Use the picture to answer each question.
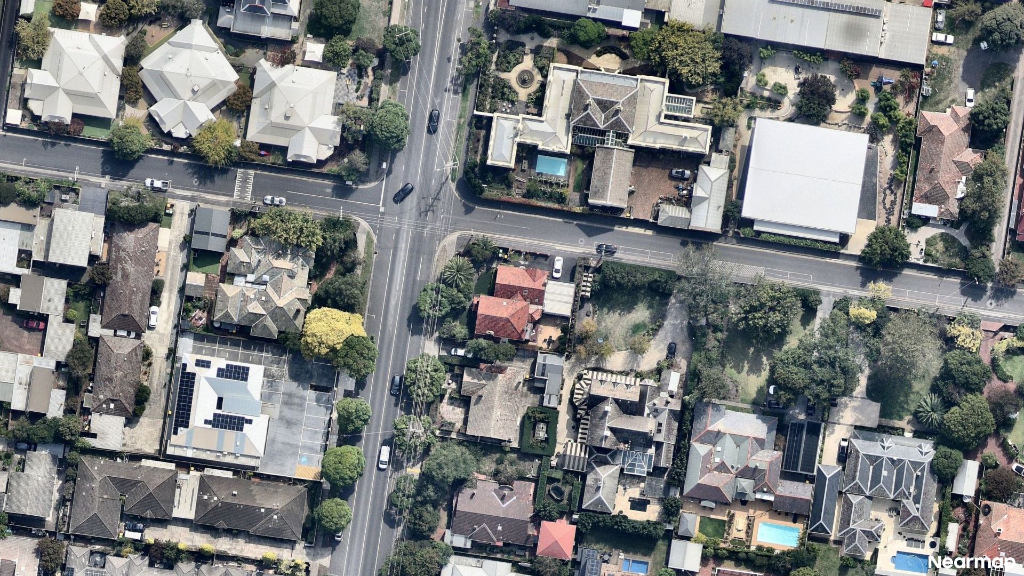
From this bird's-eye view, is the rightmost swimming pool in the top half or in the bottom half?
bottom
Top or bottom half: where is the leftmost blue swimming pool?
top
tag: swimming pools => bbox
[755,522,802,548]
[621,558,651,576]
[890,550,931,575]
[533,154,569,177]
[628,499,649,513]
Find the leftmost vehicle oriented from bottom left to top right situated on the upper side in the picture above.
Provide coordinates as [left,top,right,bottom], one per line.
[393,182,414,203]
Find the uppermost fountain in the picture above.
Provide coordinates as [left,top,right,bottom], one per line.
[516,69,535,88]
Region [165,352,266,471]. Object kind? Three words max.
building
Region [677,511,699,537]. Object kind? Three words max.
gazebo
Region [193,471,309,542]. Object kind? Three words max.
house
